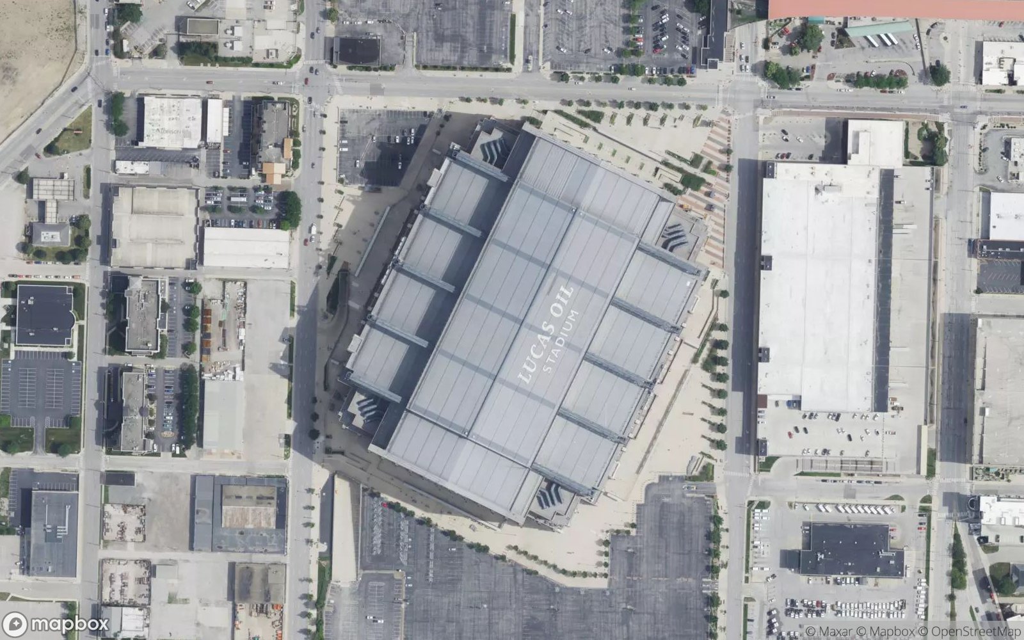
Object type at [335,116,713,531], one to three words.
stadium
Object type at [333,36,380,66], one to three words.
building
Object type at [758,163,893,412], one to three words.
warehouse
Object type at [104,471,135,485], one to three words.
shed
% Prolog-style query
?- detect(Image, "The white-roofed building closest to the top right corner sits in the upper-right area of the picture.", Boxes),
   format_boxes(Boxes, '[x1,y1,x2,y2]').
[982,42,1024,85]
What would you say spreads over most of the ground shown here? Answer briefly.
paved ground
